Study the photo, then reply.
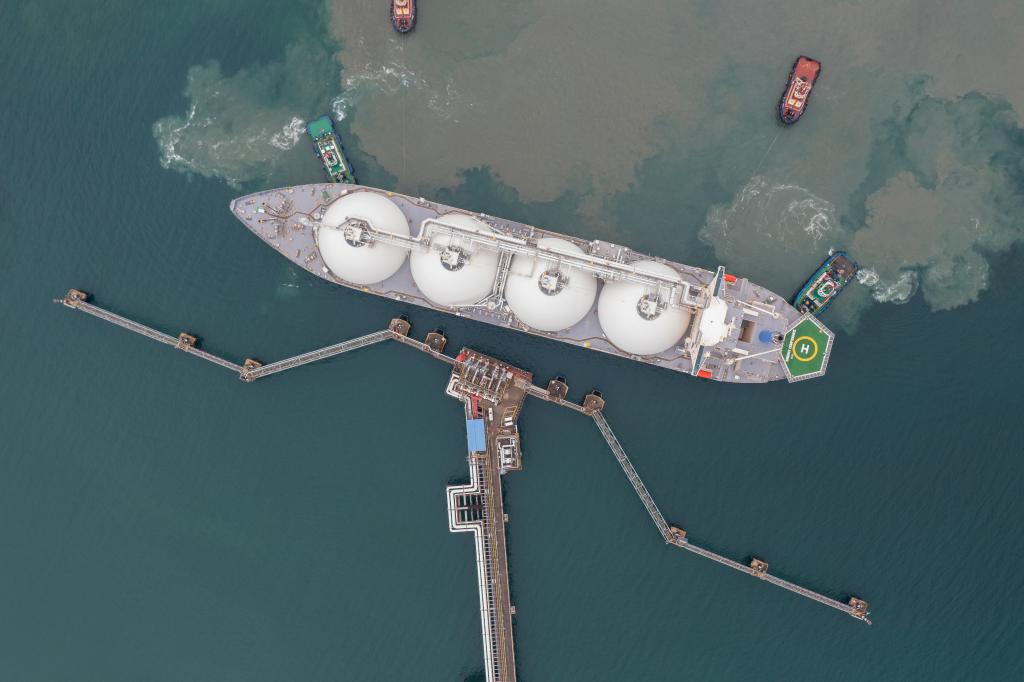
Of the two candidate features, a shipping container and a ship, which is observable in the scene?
ship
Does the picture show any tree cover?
No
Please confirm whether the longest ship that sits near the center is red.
No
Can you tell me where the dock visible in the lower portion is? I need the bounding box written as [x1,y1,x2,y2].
[447,452,516,682]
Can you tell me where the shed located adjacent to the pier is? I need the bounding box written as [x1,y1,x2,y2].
[467,418,486,452]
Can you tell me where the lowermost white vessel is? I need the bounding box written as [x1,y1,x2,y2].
[229,184,835,384]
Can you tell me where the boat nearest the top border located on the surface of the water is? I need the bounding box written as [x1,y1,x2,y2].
[388,0,419,33]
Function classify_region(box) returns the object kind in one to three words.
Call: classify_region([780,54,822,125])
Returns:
boat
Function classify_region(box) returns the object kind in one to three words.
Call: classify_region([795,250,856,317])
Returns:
boat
